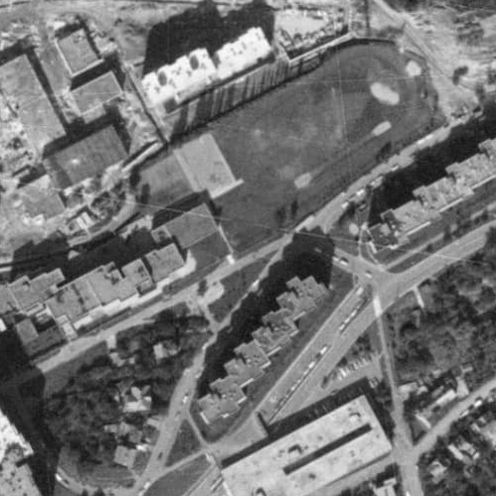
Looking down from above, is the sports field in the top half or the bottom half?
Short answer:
top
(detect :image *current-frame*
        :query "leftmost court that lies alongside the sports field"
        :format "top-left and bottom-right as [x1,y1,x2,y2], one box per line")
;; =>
[137,152,200,216]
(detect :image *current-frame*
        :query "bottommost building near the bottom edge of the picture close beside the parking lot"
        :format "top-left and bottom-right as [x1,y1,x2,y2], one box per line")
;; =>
[222,395,392,496]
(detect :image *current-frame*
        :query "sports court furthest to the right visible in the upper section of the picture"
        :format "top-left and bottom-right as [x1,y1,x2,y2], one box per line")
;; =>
[174,133,236,195]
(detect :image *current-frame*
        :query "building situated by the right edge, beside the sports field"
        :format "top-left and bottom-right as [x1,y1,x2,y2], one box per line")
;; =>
[369,138,496,250]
